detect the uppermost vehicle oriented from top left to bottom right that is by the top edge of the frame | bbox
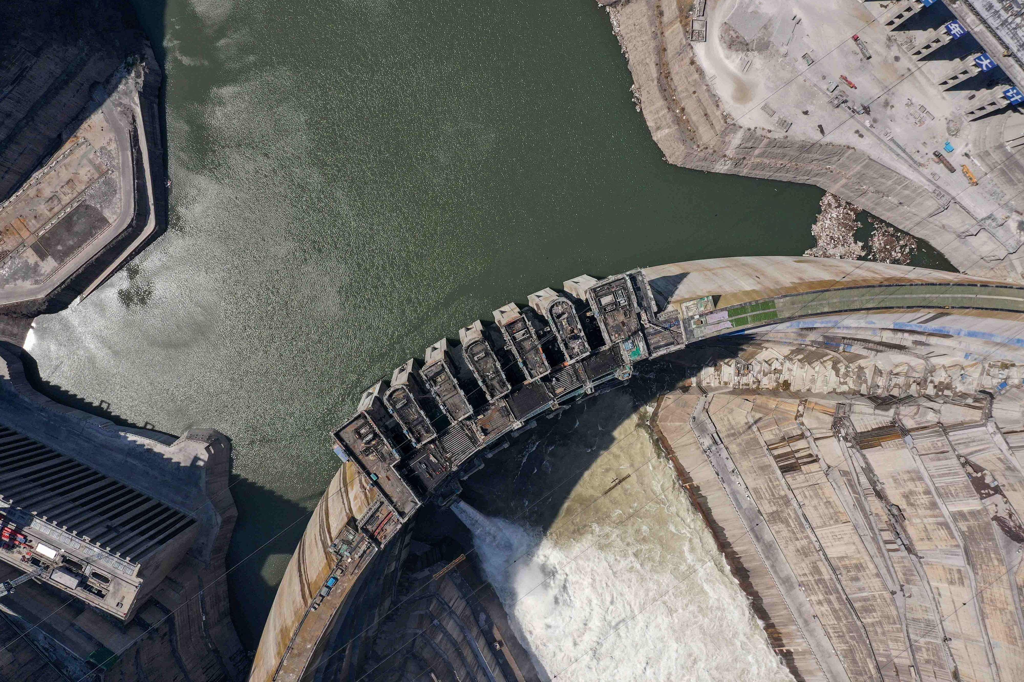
[853,33,874,60]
